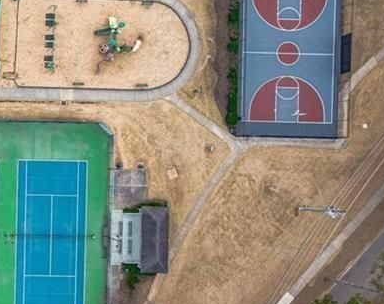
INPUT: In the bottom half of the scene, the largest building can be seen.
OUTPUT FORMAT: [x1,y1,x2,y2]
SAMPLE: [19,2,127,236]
[118,206,169,273]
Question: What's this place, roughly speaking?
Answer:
sports ground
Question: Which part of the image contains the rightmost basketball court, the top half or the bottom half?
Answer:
top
